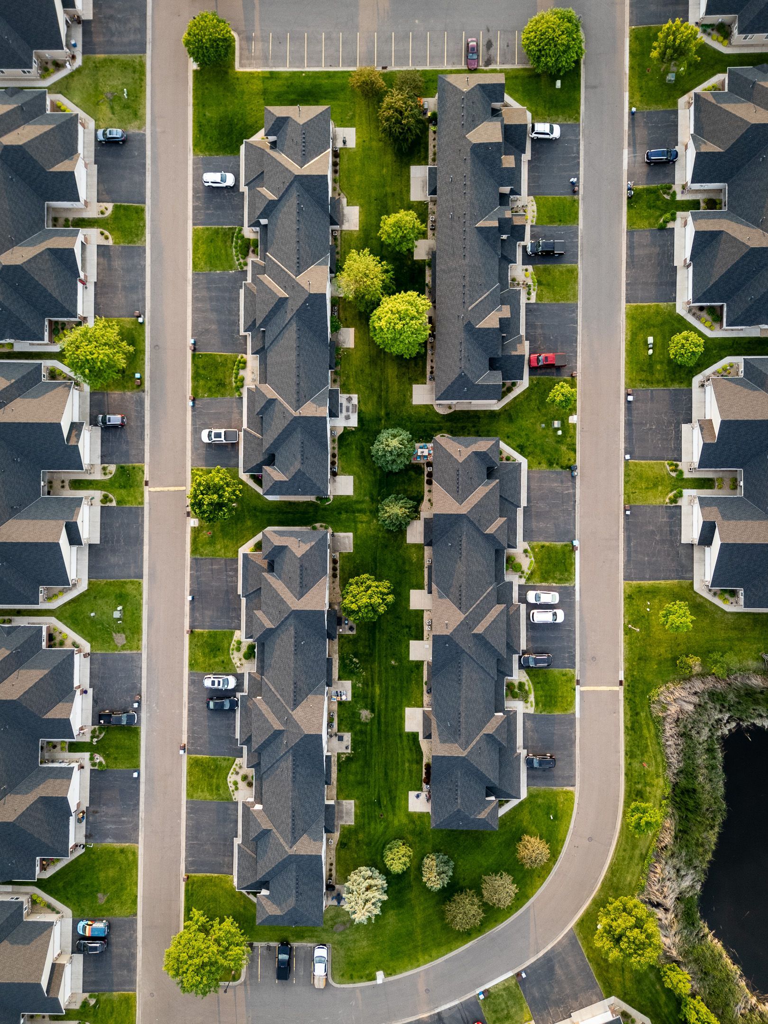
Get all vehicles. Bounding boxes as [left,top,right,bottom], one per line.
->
[202,171,235,189]
[529,122,560,140]
[312,943,328,979]
[525,753,556,770]
[77,919,111,939]
[96,413,128,428]
[203,675,237,691]
[97,127,128,145]
[276,939,292,982]
[643,147,678,166]
[206,697,238,712]
[466,37,480,72]
[202,428,240,444]
[520,653,553,669]
[528,352,568,368]
[526,590,559,605]
[529,609,564,625]
[526,239,566,257]
[77,938,109,956]
[98,710,139,727]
